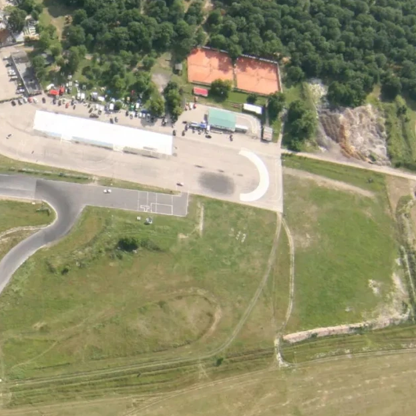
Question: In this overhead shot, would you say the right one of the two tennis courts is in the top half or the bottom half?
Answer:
top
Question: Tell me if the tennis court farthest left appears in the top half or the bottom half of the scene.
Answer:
top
